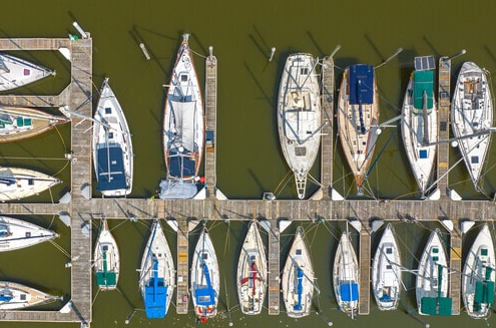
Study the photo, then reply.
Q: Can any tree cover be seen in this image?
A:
No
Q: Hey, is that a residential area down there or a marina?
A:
marina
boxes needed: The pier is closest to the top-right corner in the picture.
[436,56,450,199]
